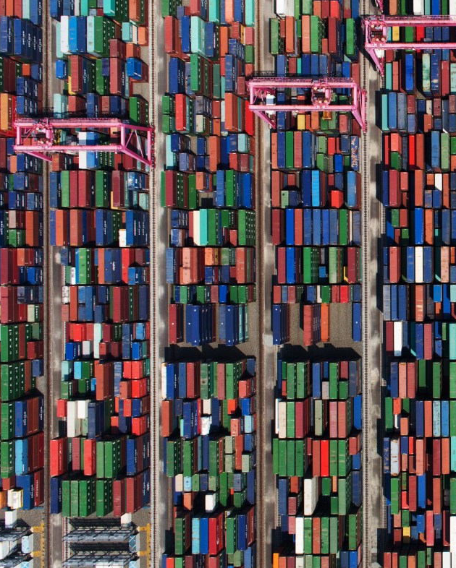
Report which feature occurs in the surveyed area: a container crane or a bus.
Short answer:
container crane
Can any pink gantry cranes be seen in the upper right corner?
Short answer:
Yes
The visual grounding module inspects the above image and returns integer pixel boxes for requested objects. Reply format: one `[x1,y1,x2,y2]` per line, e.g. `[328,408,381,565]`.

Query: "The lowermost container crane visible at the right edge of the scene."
[362,13,456,73]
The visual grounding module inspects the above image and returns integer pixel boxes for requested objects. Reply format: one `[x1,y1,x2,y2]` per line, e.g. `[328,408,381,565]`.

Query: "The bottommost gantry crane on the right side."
[247,73,364,129]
